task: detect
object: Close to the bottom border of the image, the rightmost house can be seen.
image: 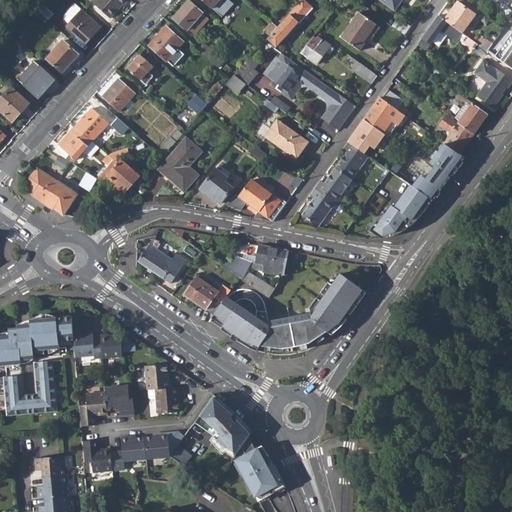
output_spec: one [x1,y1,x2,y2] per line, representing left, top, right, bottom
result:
[233,447,284,504]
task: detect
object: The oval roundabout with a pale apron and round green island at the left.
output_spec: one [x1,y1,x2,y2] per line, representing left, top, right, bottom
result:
[30,230,103,284]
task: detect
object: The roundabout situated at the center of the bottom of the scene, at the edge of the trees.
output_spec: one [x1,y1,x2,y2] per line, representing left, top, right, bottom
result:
[264,384,328,447]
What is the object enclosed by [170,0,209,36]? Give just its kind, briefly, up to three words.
house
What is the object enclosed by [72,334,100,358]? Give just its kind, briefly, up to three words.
house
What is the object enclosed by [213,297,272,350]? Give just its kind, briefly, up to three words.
building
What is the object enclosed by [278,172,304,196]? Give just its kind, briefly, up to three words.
shed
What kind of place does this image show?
residential area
